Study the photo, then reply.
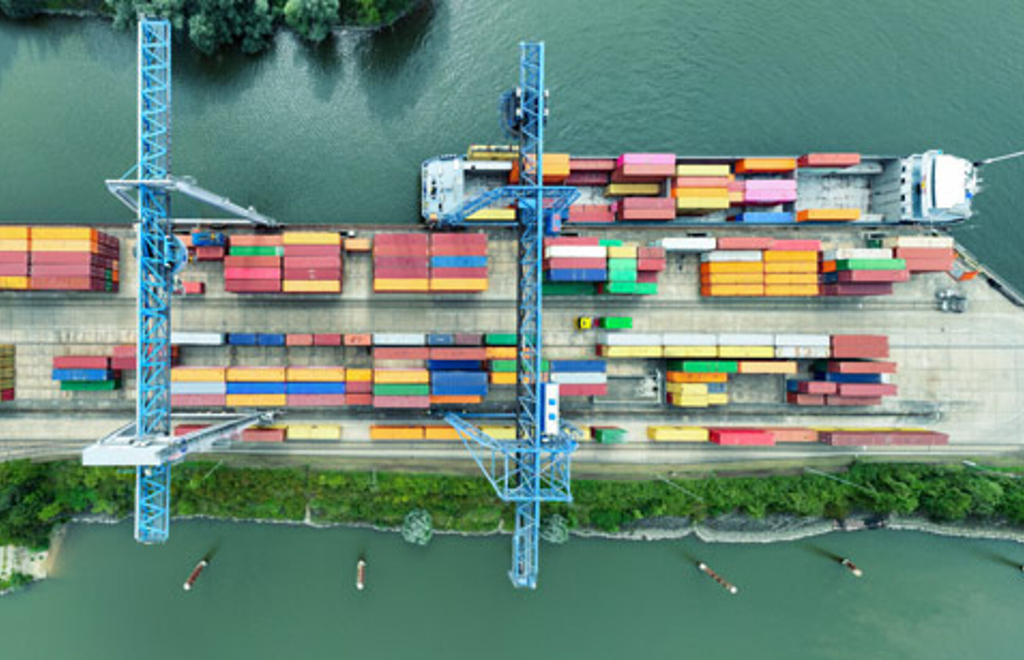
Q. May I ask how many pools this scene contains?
0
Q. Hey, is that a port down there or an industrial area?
port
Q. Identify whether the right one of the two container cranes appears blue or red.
blue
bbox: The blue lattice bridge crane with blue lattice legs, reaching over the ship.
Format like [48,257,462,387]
[422,41,585,589]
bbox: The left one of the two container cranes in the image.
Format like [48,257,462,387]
[83,11,287,547]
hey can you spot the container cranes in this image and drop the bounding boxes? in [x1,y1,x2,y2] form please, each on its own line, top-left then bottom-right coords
[422,41,585,589]
[83,11,287,547]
